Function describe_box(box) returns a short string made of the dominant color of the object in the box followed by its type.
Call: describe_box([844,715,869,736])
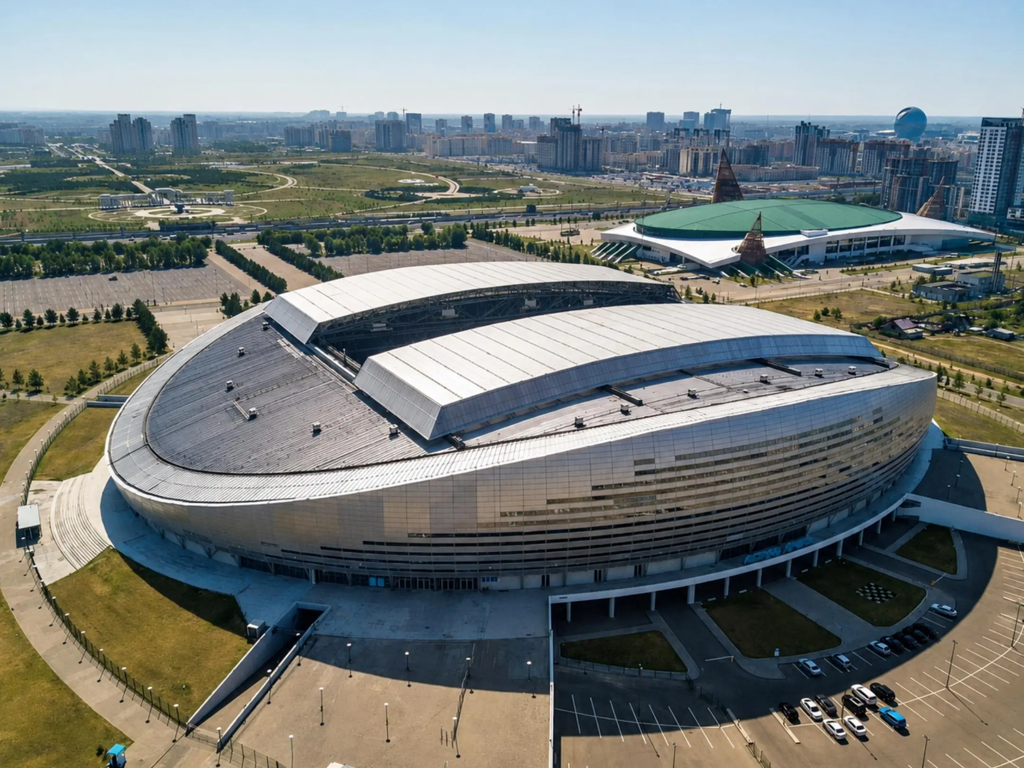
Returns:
white car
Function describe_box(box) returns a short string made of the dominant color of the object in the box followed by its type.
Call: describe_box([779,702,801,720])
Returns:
black car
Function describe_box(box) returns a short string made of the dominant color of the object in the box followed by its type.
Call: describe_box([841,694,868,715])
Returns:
black car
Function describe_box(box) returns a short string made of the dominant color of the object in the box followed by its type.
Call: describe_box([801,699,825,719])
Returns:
white car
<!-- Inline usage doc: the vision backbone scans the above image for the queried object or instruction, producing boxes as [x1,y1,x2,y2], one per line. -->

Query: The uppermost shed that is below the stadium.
[245,616,265,638]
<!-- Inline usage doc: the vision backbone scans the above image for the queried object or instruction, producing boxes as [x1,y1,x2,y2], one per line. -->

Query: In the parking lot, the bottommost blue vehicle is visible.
[880,707,908,728]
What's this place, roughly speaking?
sports ground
